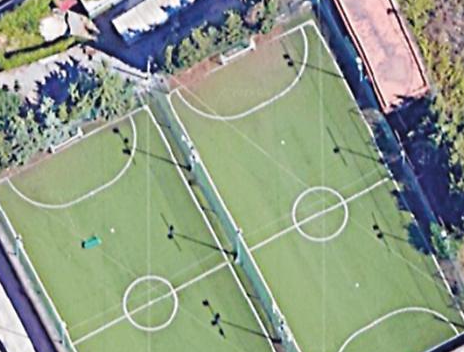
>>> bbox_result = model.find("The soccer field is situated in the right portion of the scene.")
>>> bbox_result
[149,17,464,352]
